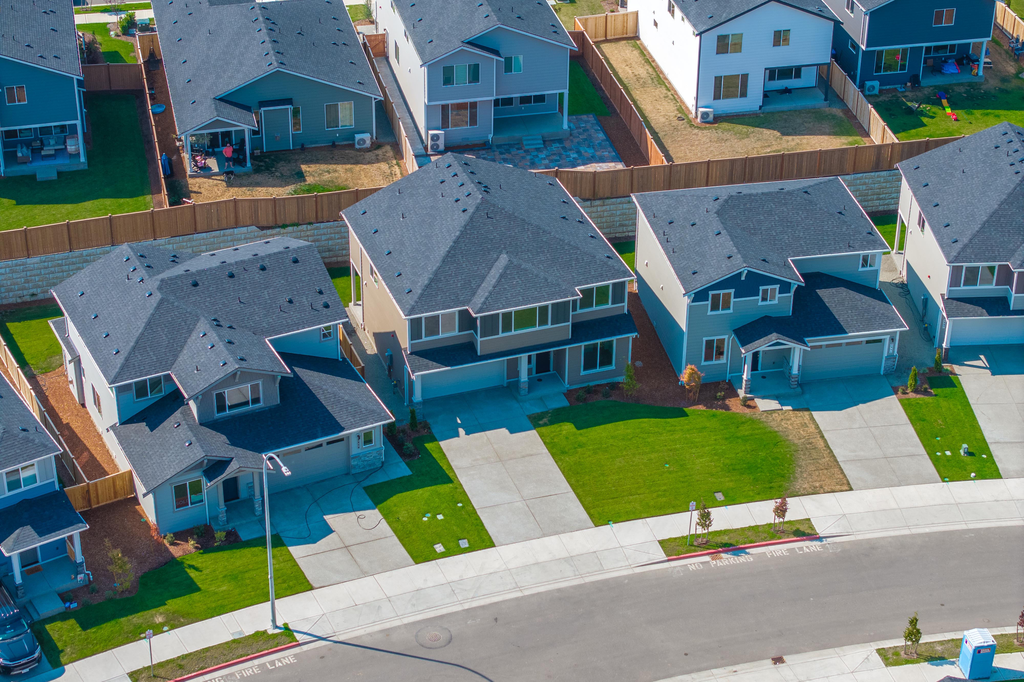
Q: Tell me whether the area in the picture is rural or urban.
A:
urban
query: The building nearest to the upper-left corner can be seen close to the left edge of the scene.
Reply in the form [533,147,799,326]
[0,0,87,179]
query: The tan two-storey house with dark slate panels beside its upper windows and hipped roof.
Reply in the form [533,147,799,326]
[339,152,641,420]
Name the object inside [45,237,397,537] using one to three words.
house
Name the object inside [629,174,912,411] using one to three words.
house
